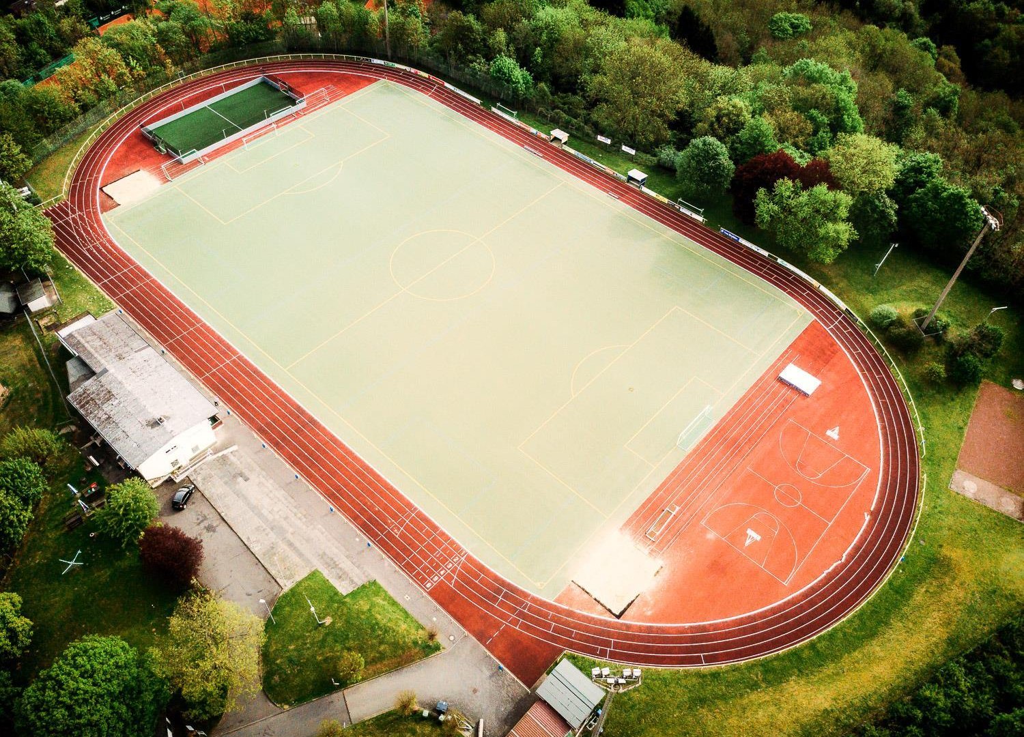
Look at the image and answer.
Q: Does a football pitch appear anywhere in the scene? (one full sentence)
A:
Yes, there's a football pitch down there.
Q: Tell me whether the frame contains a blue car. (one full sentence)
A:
No, the scene contains no blue car.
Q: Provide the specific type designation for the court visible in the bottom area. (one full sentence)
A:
In the photo, the court visible in the bottom area shows up as a basketball court.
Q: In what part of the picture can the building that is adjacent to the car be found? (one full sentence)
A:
The building that is adjacent to the car sits in the left section of the image.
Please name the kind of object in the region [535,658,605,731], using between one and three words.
shed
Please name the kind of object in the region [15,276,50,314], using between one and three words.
shed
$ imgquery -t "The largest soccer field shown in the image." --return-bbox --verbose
[103,79,816,597]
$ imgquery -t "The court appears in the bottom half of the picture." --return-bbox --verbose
[699,418,871,584]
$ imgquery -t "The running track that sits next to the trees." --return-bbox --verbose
[40,59,917,691]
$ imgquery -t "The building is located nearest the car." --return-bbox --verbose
[46,304,233,483]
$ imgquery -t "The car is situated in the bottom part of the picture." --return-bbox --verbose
[166,480,196,510]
